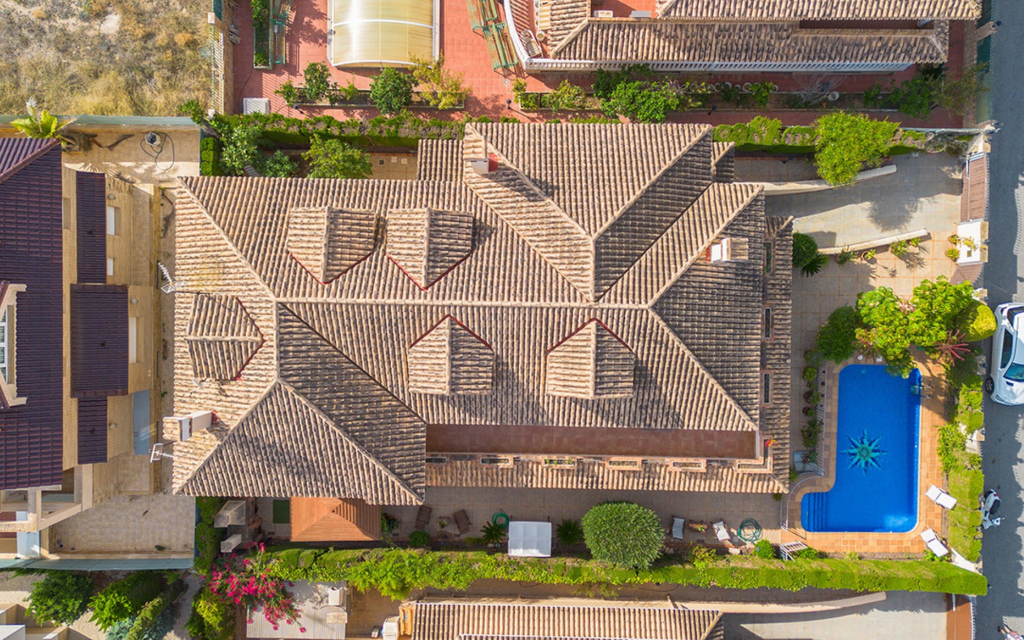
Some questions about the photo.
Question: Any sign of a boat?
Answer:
No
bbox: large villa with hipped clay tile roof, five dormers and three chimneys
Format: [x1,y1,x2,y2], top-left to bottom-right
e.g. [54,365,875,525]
[162,121,795,507]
